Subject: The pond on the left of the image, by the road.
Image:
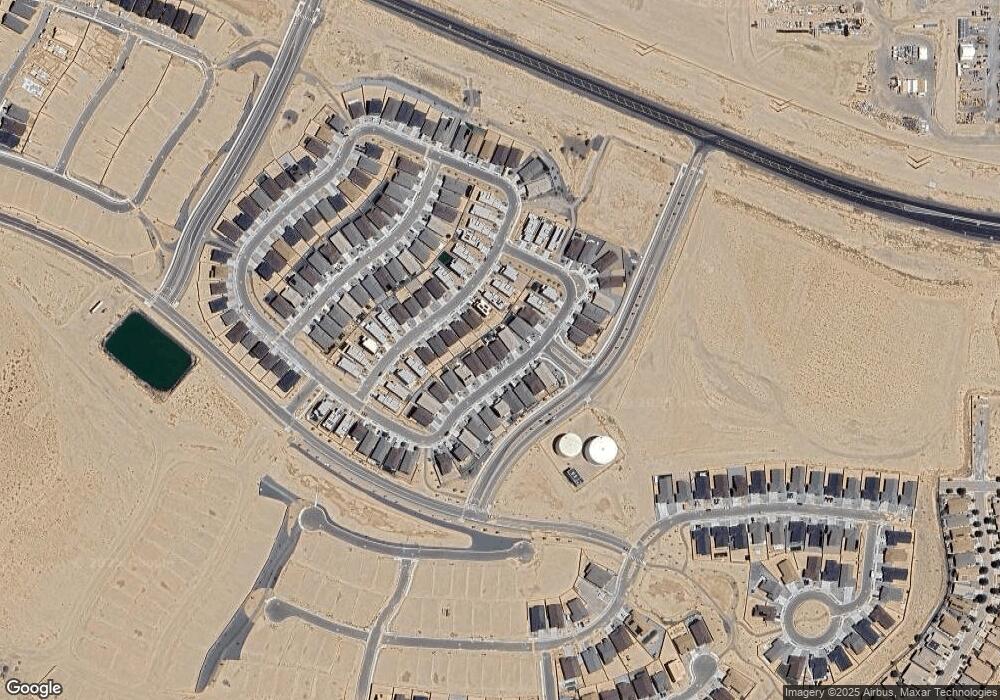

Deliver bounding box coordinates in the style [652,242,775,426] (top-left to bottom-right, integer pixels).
[100,305,197,395]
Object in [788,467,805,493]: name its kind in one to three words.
house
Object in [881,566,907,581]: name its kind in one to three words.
house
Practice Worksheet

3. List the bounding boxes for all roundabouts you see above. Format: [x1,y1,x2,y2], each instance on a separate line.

[785,590,838,646]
